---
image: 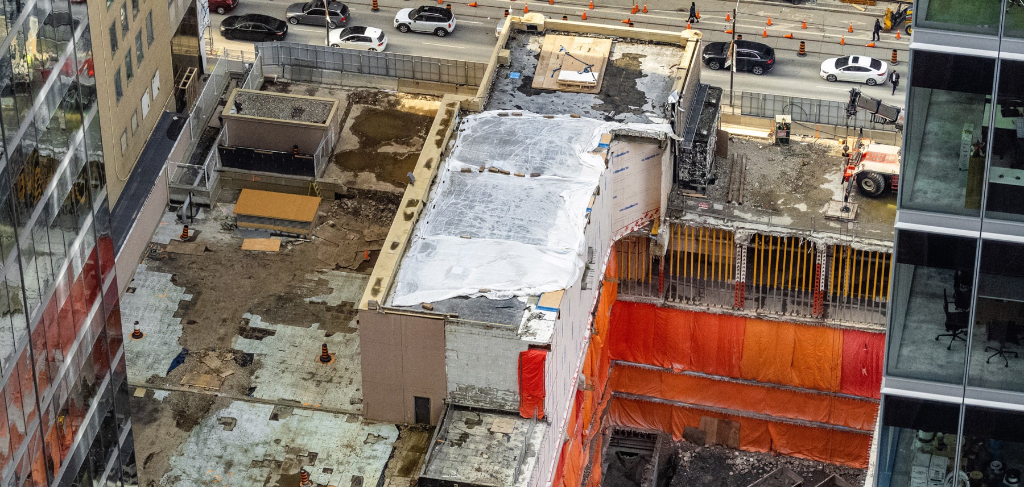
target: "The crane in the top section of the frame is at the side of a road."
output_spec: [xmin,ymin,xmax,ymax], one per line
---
[841,73,917,212]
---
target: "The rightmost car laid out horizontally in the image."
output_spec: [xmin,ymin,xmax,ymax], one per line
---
[821,54,888,86]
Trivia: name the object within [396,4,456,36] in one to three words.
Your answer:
car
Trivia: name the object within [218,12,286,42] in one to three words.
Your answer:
car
